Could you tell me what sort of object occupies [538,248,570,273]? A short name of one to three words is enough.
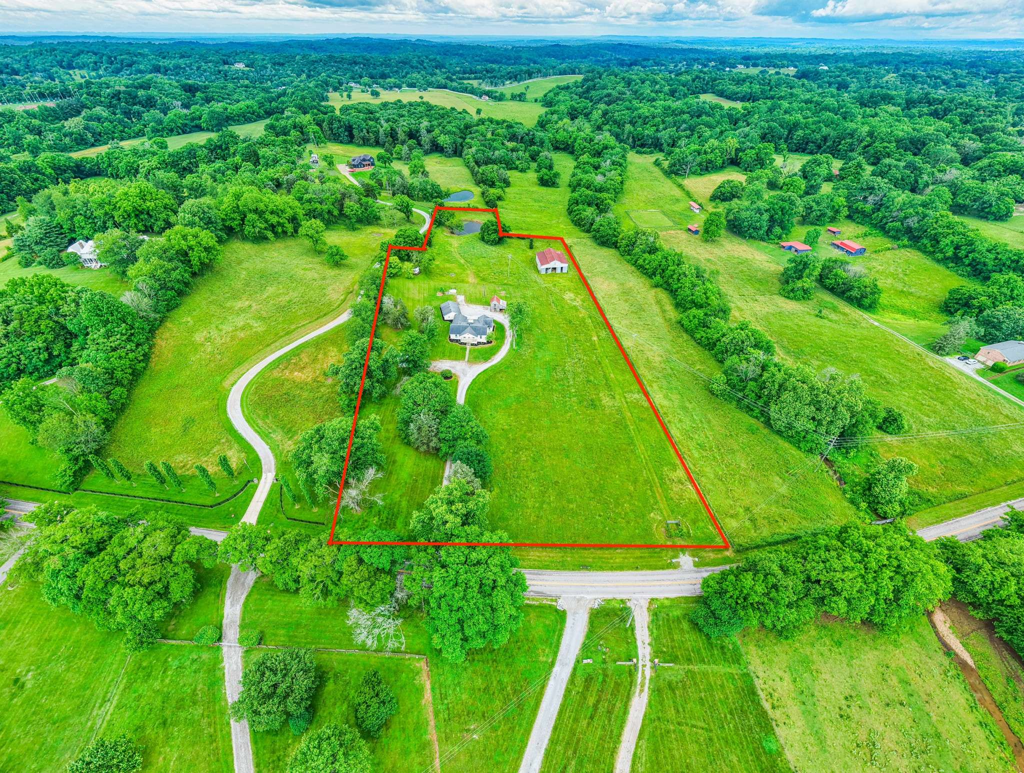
barn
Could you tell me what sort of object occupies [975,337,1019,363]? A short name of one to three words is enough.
house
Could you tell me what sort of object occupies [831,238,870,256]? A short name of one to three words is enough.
barn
